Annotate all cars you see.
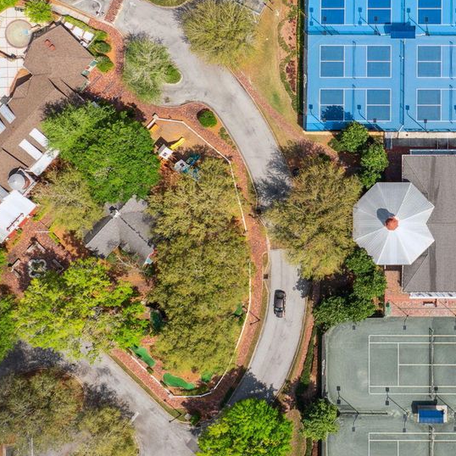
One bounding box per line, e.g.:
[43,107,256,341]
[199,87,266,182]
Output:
[271,290,285,316]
